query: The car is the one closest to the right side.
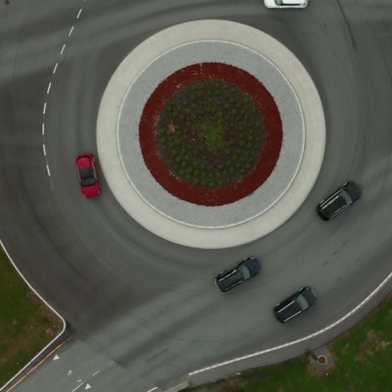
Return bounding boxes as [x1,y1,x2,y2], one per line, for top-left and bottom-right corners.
[318,183,360,219]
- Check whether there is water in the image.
No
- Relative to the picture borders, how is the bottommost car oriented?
at an angle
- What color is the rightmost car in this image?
black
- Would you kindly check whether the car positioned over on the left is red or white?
red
